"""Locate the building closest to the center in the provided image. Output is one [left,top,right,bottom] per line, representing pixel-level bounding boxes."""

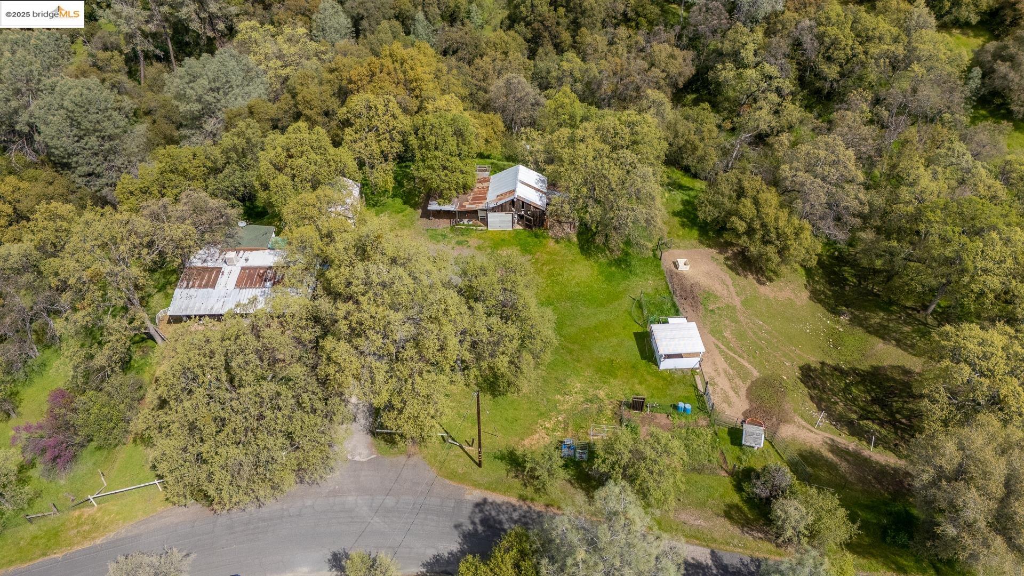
[429,162,564,234]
